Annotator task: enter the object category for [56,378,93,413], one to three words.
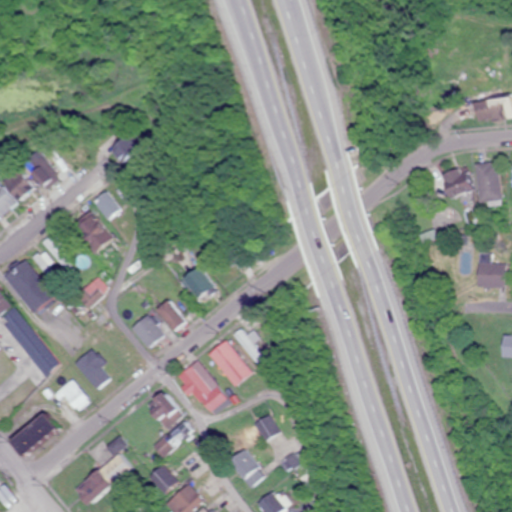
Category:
building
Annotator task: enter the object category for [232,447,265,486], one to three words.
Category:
house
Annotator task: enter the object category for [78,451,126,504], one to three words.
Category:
house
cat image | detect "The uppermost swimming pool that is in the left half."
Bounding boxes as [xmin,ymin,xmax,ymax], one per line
[74,254,90,270]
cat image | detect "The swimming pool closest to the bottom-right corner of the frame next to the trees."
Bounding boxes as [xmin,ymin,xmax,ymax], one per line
[458,248,474,278]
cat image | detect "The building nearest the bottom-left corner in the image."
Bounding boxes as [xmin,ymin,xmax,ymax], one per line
[10,412,57,457]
